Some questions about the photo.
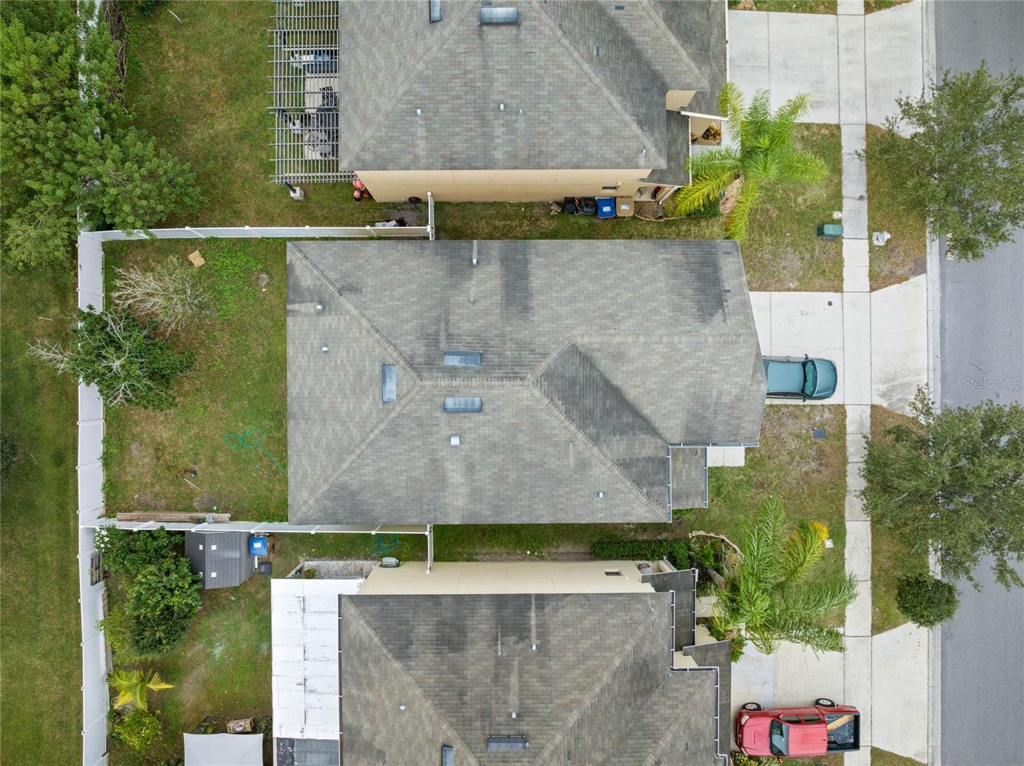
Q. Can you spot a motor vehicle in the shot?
Yes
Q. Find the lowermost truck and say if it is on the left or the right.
right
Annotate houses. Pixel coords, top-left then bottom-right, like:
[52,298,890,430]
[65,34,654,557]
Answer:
[337,0,731,206]
[339,561,731,766]
[286,238,767,526]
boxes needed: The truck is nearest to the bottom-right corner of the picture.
[732,698,860,762]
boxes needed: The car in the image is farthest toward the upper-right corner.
[762,351,836,405]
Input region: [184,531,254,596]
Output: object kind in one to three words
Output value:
shed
